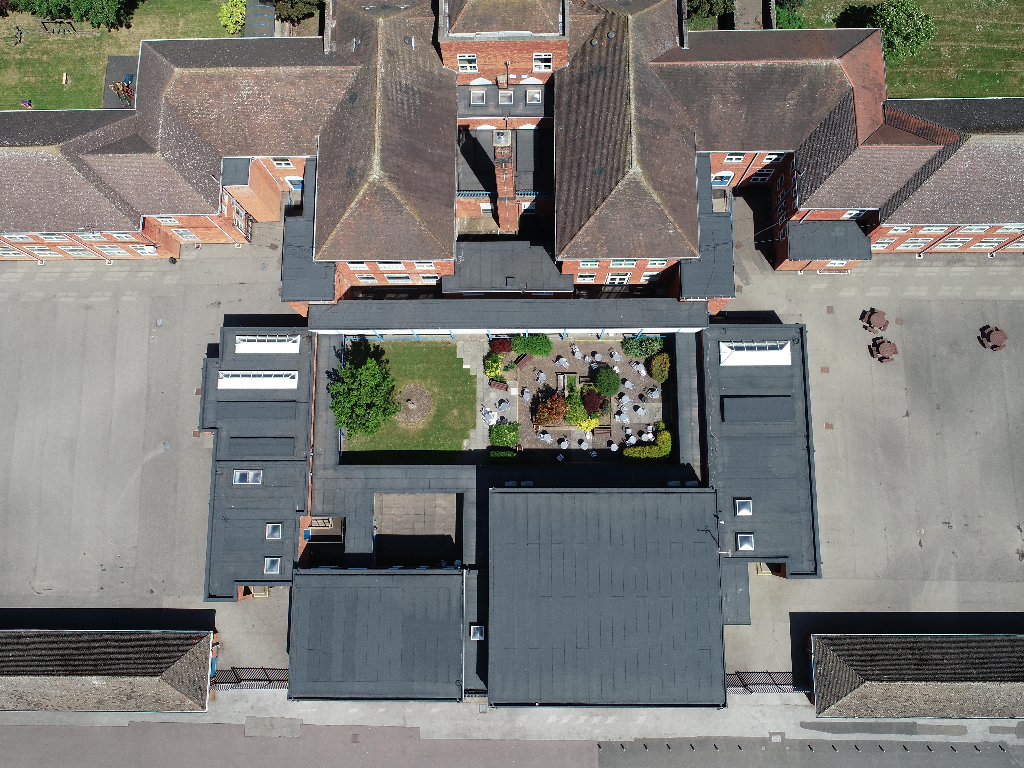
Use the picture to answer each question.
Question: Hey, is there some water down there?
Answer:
No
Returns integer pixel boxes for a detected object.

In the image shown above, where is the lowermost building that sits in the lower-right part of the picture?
[803,632,1024,720]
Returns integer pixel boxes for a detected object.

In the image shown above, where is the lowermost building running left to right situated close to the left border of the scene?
[0,629,223,715]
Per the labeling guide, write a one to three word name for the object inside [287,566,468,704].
building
